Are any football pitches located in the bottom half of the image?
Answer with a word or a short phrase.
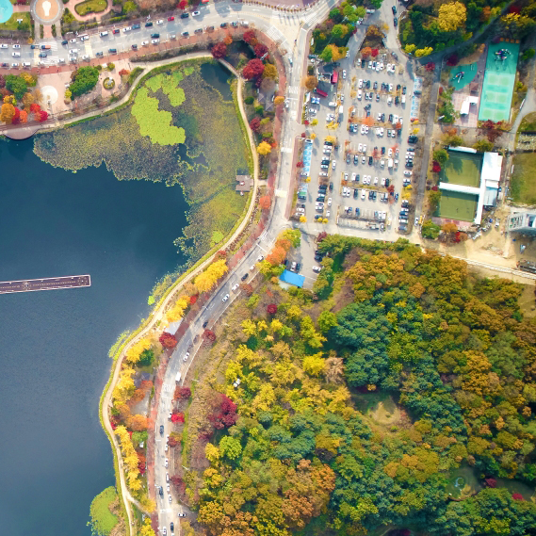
No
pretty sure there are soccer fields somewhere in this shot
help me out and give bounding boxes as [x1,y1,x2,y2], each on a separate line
[440,152,481,188]
[433,190,479,221]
